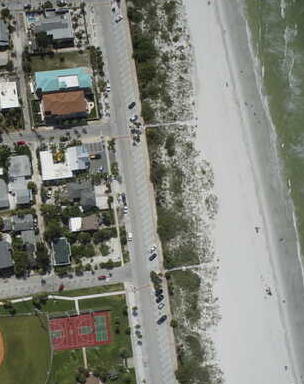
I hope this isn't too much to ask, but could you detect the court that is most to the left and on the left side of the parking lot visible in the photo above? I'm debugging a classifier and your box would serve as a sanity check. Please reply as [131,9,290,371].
[50,311,97,349]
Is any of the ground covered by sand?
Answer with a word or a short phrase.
Yes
